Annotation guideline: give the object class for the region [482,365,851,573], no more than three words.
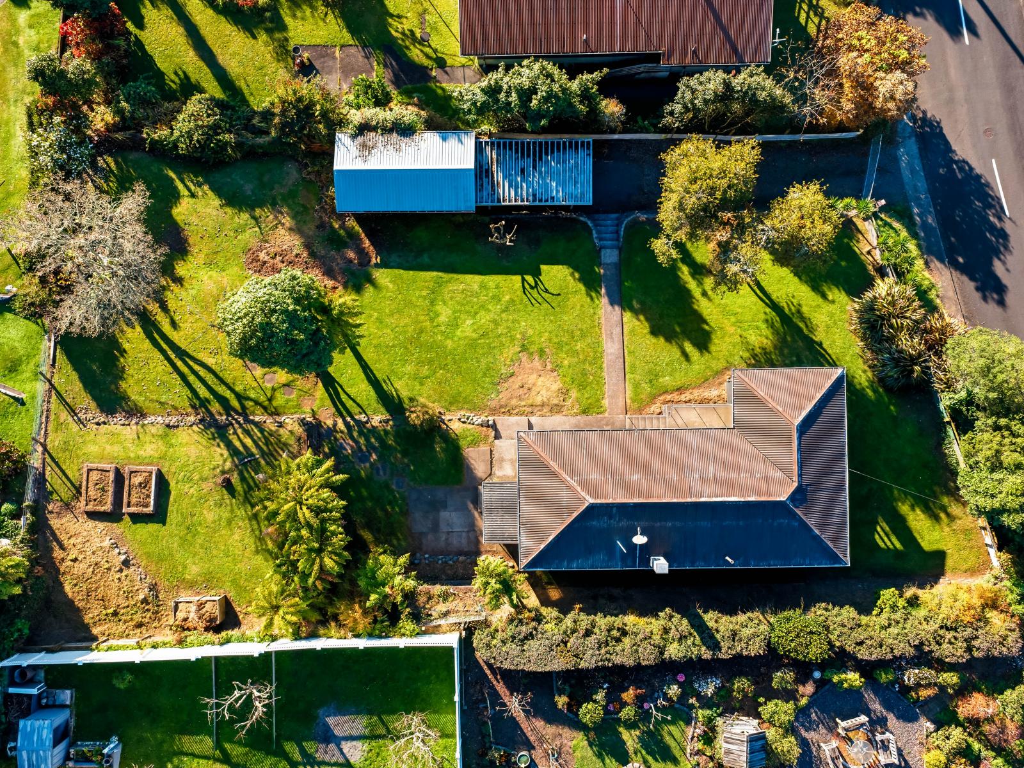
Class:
house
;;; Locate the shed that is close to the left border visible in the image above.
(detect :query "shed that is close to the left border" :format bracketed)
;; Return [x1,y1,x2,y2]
[10,703,76,768]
